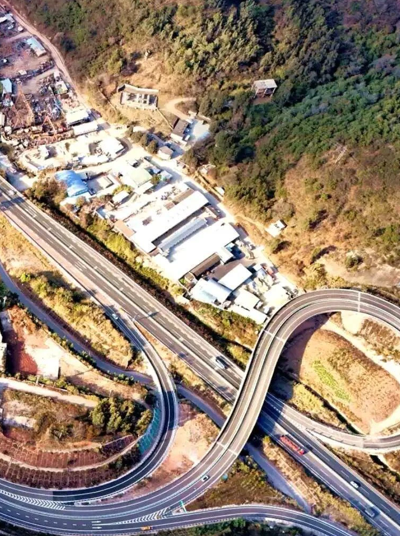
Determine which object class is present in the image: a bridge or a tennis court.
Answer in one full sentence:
This aerial view contains a bridge.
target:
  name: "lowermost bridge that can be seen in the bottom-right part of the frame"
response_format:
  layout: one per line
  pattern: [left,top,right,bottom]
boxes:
[292,510,333,536]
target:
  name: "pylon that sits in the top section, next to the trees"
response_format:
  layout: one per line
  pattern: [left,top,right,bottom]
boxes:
[331,146,349,167]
